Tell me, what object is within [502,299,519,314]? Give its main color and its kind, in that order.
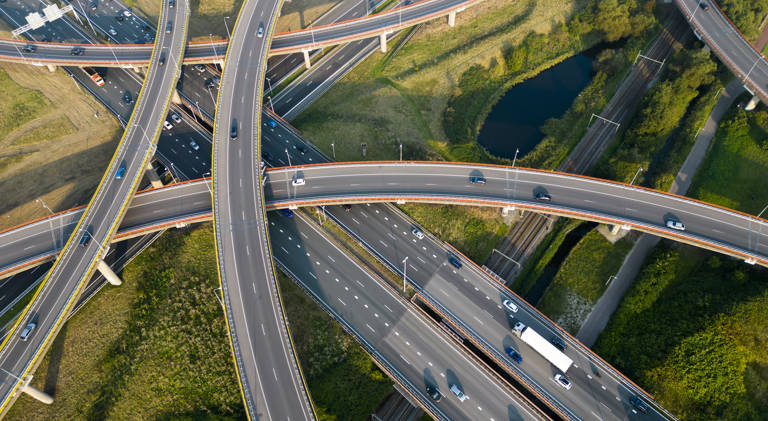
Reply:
white car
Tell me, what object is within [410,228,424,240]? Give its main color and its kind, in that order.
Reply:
white vehicle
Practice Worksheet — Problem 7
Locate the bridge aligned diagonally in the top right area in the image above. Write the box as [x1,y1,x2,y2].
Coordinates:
[674,0,768,106]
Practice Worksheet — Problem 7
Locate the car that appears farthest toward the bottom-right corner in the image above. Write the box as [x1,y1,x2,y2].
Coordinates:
[628,395,648,413]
